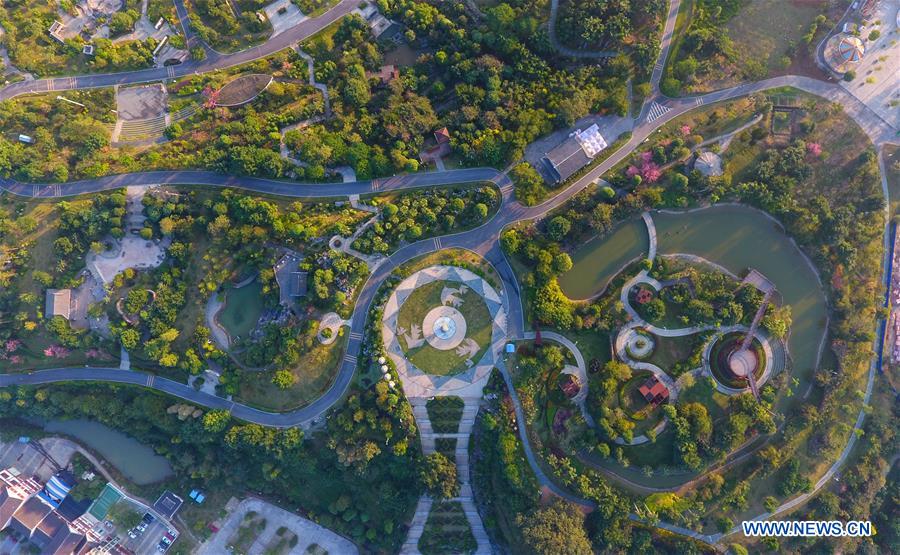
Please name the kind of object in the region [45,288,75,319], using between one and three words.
building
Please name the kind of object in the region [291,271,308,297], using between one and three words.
building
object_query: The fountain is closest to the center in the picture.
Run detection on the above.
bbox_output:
[432,317,456,340]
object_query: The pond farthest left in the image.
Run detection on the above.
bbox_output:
[217,281,265,340]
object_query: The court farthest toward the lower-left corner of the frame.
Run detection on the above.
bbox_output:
[90,486,122,521]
